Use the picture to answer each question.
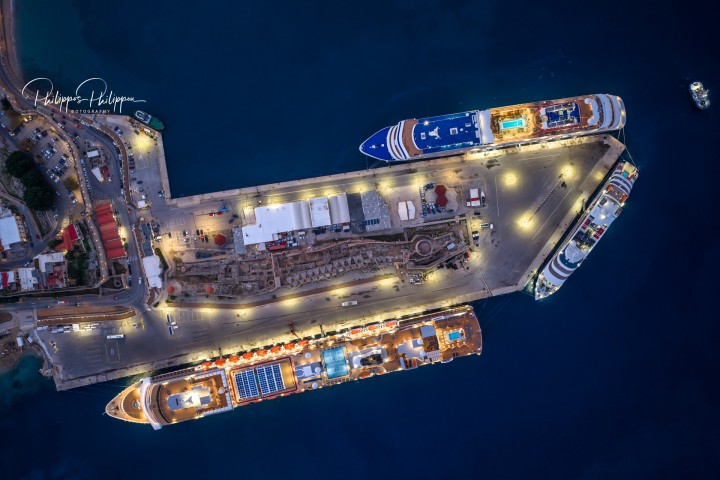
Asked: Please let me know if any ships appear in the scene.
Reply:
Yes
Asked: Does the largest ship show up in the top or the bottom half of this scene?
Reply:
bottom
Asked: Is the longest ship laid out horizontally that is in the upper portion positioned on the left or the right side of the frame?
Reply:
right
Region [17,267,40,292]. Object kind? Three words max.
house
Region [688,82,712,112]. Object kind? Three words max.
boat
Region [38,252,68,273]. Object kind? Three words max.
building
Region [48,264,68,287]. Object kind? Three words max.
house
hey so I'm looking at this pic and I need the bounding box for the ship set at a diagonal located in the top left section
[131,105,165,129]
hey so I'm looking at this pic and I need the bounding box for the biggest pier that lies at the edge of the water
[34,134,625,391]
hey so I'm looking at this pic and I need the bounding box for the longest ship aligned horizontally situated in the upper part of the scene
[359,93,625,157]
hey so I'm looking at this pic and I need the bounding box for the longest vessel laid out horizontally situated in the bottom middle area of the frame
[105,309,482,431]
